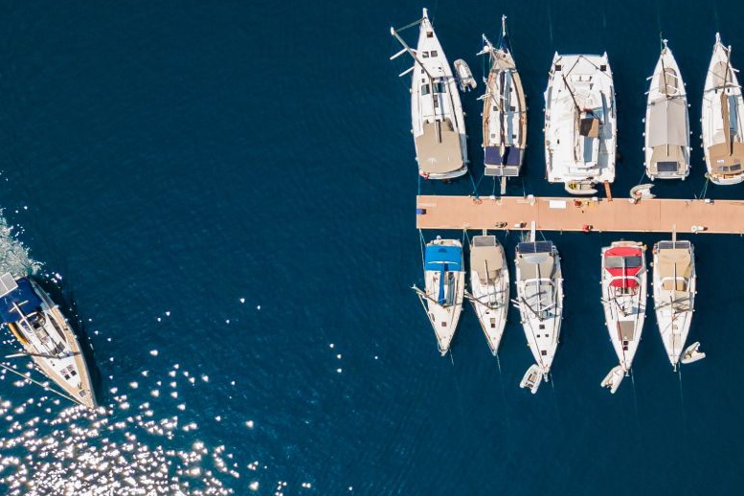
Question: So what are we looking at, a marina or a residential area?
marina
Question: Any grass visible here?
No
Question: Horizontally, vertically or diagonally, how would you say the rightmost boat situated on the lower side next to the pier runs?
vertically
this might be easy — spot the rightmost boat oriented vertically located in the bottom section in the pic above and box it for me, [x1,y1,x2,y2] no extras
[649,226,698,375]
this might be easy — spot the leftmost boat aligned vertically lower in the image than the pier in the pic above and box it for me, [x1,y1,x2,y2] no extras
[412,229,468,359]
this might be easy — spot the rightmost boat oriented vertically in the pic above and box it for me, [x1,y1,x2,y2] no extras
[699,31,744,198]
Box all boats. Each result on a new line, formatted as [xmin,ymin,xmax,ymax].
[639,36,693,183]
[513,225,565,381]
[649,226,698,375]
[521,364,542,393]
[463,225,509,362]
[0,269,99,413]
[630,184,654,199]
[599,230,649,379]
[680,343,706,365]
[474,15,530,196]
[699,31,744,198]
[453,58,474,90]
[389,5,475,194]
[412,229,468,359]
[564,182,599,195]
[525,41,622,201]
[602,366,623,393]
